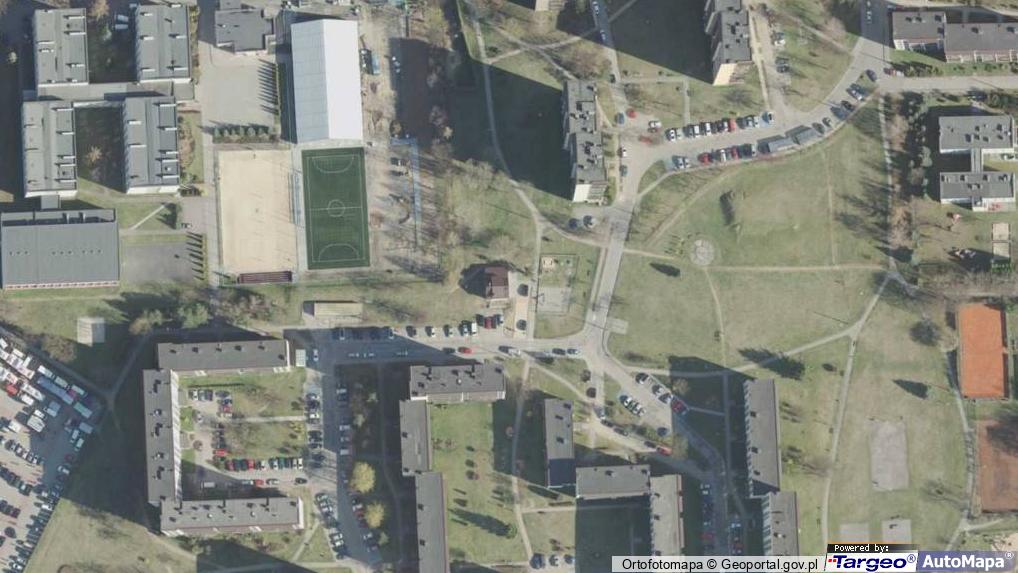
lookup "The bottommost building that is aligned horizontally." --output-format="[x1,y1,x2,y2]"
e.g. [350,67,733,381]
[161,498,304,535]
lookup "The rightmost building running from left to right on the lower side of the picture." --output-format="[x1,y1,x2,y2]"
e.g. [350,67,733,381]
[575,465,650,501]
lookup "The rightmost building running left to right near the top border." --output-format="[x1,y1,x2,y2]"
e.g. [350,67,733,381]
[939,23,1018,61]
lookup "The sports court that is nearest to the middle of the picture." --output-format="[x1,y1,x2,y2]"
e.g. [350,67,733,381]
[537,286,570,312]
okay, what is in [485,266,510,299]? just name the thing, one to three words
house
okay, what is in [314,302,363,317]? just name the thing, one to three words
building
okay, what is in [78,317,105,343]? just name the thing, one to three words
shed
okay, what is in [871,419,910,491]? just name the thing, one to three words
sports court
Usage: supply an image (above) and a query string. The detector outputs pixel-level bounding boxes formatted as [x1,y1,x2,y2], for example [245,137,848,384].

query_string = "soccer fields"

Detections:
[302,147,370,269]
